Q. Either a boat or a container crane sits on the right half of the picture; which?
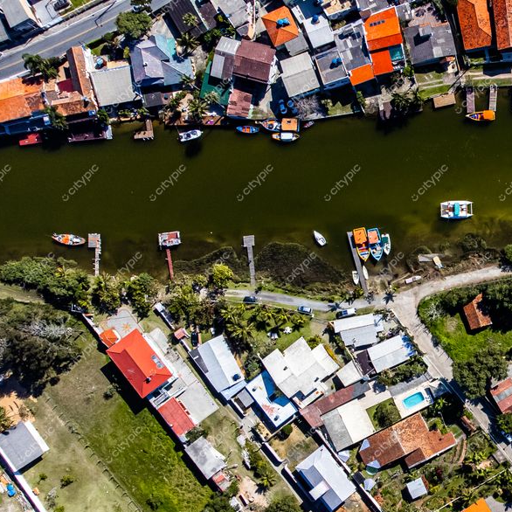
boat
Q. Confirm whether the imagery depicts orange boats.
Yes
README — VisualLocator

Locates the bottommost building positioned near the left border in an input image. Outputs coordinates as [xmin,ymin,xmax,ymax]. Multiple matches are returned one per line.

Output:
[0,420,51,471]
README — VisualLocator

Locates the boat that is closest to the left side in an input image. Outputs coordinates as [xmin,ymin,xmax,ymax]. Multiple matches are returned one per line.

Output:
[52,233,85,245]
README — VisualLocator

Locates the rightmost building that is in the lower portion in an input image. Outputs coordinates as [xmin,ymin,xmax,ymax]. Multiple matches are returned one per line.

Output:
[491,378,512,414]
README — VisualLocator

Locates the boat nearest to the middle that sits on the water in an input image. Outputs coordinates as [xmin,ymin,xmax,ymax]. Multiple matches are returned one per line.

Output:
[312,230,326,247]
